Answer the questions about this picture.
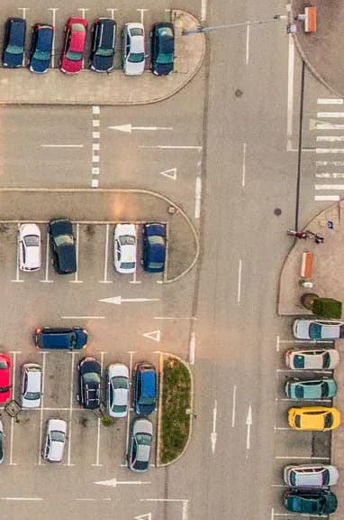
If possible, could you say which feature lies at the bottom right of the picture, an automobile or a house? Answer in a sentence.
The one visible at the bottom right of the picture is an automobile.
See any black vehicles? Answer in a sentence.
Yes, there's a black vehicle down there.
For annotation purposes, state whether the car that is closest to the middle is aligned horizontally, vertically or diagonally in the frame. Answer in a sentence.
The car that is closest to the middle has been laid out vertically relative to the frame.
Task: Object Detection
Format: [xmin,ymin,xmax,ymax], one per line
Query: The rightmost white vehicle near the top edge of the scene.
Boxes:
[120,23,148,74]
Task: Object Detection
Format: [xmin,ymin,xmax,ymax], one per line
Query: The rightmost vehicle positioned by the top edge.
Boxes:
[149,23,176,75]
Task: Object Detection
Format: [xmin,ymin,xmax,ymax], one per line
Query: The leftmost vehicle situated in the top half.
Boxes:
[1,18,27,68]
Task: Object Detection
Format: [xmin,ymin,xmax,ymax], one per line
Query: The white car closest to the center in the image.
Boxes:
[112,224,137,273]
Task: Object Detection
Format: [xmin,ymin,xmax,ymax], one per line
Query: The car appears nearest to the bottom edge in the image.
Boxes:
[282,488,335,516]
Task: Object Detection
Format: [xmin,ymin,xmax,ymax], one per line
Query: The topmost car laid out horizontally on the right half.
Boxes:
[291,317,344,343]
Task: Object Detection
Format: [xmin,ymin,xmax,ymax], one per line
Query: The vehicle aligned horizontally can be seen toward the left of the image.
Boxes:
[34,325,85,351]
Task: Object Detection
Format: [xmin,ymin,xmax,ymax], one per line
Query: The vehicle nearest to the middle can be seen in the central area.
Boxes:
[140,223,167,273]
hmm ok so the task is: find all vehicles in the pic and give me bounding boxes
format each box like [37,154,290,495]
[1,18,27,68]
[0,420,6,464]
[130,362,160,414]
[140,223,167,273]
[0,354,13,402]
[59,19,87,74]
[284,374,336,401]
[282,462,337,489]
[42,416,68,462]
[291,317,344,343]
[282,488,335,516]
[125,418,154,471]
[47,218,76,274]
[34,325,85,351]
[18,362,44,407]
[149,23,176,75]
[284,347,337,372]
[105,362,131,417]
[17,223,43,272]
[112,224,137,273]
[27,24,54,73]
[120,23,148,74]
[286,405,339,432]
[90,19,116,72]
[75,357,102,409]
